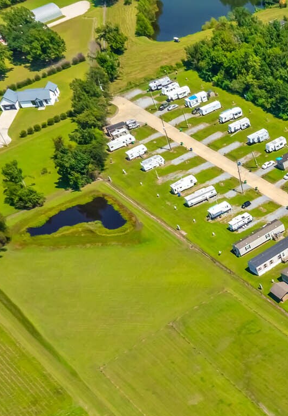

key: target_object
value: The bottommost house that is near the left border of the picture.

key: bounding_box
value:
[1,81,66,114]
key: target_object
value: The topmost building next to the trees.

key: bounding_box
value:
[27,1,65,22]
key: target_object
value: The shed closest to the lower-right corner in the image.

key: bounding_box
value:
[268,282,288,306]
